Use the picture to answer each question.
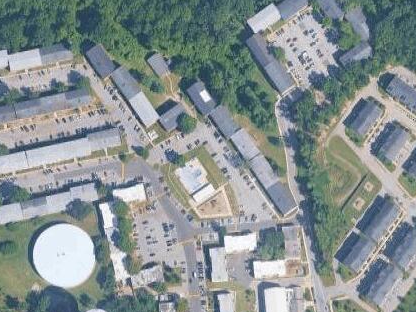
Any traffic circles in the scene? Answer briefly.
No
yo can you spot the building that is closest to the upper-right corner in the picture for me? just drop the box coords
[347,8,370,40]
